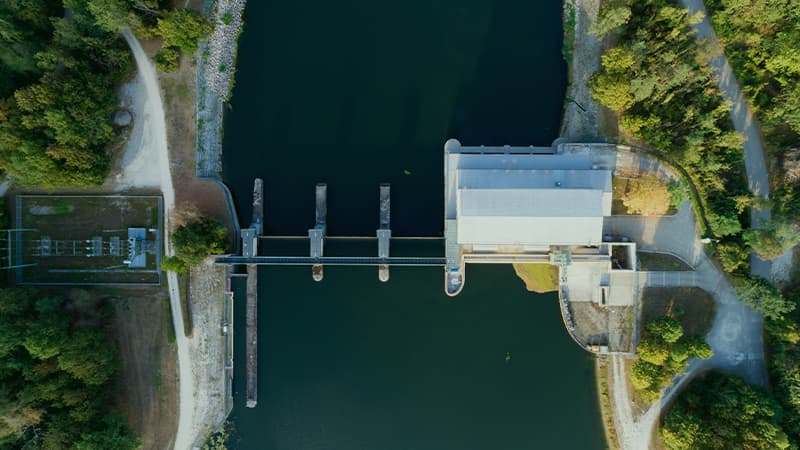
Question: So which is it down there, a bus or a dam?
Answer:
dam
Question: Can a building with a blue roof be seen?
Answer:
No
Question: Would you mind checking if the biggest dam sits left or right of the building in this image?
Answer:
on the left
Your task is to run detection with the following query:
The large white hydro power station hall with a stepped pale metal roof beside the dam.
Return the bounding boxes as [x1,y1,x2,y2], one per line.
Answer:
[445,140,617,295]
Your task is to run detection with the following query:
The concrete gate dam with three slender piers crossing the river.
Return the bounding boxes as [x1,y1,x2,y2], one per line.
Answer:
[241,179,445,283]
